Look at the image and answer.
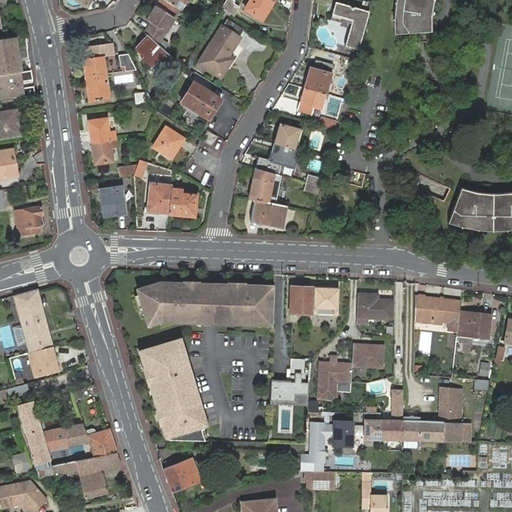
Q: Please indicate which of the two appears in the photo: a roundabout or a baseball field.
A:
roundabout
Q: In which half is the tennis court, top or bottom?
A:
top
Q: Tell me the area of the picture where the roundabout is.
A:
left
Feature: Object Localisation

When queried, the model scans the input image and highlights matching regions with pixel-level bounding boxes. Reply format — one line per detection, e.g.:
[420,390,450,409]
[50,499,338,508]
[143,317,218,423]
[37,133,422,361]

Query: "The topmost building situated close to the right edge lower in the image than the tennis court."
[448,190,512,234]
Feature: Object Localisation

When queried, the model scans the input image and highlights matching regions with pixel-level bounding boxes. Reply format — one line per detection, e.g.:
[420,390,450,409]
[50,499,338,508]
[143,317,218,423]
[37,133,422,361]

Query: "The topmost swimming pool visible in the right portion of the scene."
[316,26,338,48]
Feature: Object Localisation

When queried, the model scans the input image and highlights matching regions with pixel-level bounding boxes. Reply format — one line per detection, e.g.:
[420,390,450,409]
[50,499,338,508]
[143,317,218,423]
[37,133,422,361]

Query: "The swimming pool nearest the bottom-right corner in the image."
[446,454,476,468]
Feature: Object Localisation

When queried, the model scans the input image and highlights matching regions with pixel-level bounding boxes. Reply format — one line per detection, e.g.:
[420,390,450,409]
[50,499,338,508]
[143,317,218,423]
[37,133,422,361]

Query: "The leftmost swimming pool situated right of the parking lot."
[278,405,294,434]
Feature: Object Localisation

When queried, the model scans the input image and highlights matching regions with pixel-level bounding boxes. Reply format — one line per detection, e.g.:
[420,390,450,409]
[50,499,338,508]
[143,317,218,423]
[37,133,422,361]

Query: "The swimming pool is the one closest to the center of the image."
[306,158,322,173]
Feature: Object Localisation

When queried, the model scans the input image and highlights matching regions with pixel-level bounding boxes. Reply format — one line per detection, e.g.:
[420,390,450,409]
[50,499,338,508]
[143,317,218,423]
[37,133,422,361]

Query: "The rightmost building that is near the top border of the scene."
[394,0,436,36]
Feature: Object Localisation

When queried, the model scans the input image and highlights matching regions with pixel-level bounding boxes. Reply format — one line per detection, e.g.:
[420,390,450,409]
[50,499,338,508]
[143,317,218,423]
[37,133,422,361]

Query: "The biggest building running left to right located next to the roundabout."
[135,282,276,329]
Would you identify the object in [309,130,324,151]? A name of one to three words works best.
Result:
swimming pool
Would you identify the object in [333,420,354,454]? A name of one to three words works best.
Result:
house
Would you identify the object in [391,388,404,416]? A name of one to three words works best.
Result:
shed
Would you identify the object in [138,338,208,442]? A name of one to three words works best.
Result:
building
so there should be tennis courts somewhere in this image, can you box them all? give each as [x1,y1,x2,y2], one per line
[485,23,512,111]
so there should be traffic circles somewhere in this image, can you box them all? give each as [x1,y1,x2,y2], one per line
[47,215,118,301]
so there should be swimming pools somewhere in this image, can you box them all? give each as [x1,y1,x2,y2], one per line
[12,358,23,372]
[504,346,512,358]
[0,324,16,350]
[65,0,82,8]
[68,445,85,456]
[316,26,338,48]
[446,454,476,468]
[309,130,324,151]
[334,456,355,466]
[306,158,322,173]
[322,94,344,120]
[278,405,294,434]
[366,379,388,396]
[373,479,392,490]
